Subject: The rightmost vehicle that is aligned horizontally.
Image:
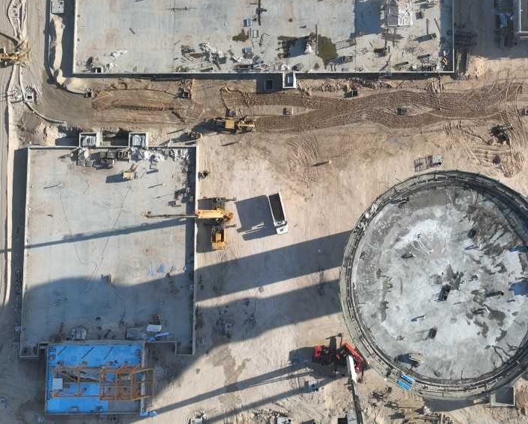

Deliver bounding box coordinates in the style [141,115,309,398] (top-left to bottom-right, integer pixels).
[210,116,259,133]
